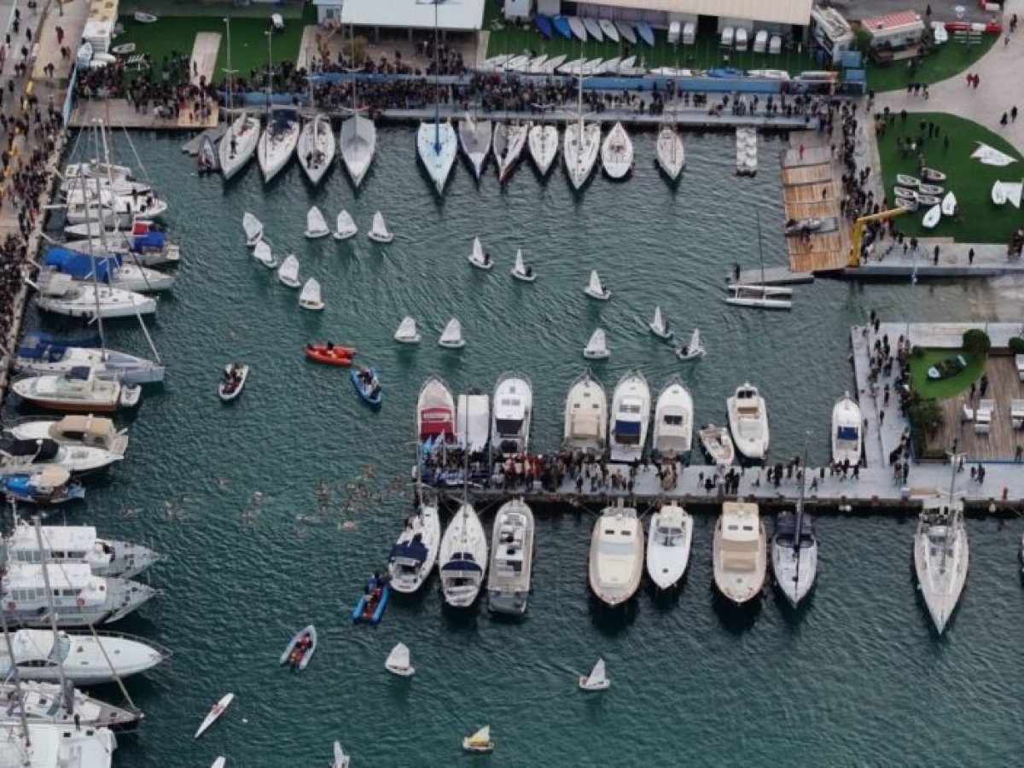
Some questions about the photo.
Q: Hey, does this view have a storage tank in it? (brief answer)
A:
No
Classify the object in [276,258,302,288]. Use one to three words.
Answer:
boat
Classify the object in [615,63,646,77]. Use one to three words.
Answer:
boat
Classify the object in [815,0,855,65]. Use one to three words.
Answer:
building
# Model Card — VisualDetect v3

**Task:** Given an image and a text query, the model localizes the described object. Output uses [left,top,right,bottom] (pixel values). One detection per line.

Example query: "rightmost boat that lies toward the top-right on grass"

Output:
[992,174,1008,205]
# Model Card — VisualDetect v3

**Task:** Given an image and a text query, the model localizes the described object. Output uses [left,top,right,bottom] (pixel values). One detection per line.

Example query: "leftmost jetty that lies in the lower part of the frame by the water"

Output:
[423,465,864,509]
